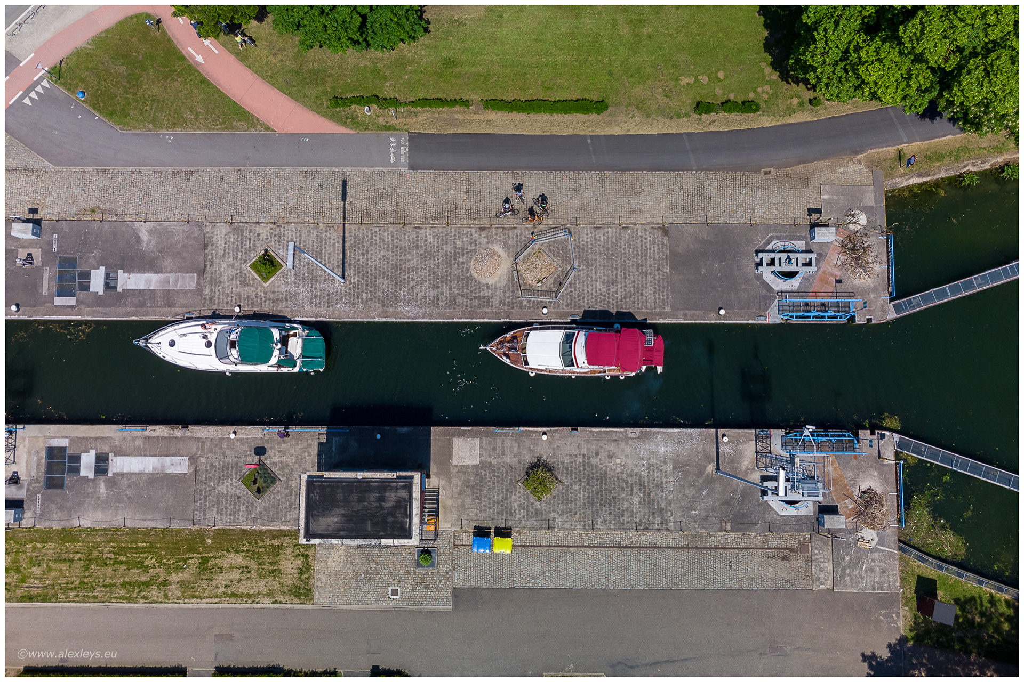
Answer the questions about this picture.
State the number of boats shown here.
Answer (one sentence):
In total, 2 boats can be seen.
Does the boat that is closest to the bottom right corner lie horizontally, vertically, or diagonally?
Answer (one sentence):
The boat that is closest to the bottom right corner has been laid out horizontally relative to the frame.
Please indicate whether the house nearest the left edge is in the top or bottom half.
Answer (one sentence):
The bottom half of the photo is where the house nearest the left edge is.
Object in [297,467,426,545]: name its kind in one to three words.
house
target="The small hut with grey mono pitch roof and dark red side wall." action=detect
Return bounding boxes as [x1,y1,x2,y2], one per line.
[917,594,956,626]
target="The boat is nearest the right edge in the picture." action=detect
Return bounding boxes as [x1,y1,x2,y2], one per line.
[480,321,664,380]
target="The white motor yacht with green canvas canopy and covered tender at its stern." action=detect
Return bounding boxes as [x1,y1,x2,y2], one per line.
[133,318,327,376]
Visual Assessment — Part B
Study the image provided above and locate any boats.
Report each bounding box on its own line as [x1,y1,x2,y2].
[480,321,664,380]
[133,318,327,376]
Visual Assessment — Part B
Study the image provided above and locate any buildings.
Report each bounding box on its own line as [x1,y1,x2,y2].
[917,594,956,626]
[297,467,426,545]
